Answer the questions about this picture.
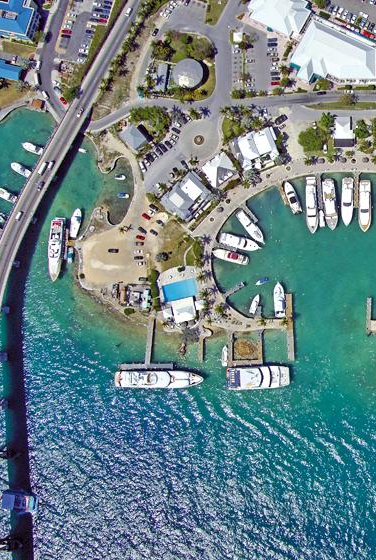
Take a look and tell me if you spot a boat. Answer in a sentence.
Yes, this view includes a boat.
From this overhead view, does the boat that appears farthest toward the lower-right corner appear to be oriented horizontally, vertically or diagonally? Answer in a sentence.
From this overhead view, the boat that appears farthest toward the lower-right corner appears to run horizontally.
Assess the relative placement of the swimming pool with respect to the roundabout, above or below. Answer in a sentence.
The position of the swimming pool is below the roundabout.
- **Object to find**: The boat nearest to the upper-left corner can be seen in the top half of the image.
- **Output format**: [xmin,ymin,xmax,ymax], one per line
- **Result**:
[22,143,44,157]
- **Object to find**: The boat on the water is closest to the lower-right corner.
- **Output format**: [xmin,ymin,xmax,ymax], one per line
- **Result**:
[227,366,290,389]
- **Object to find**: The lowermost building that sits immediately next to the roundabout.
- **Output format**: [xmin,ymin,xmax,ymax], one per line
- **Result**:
[164,173,217,222]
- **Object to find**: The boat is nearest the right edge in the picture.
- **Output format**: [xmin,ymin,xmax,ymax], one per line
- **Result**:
[359,180,372,231]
